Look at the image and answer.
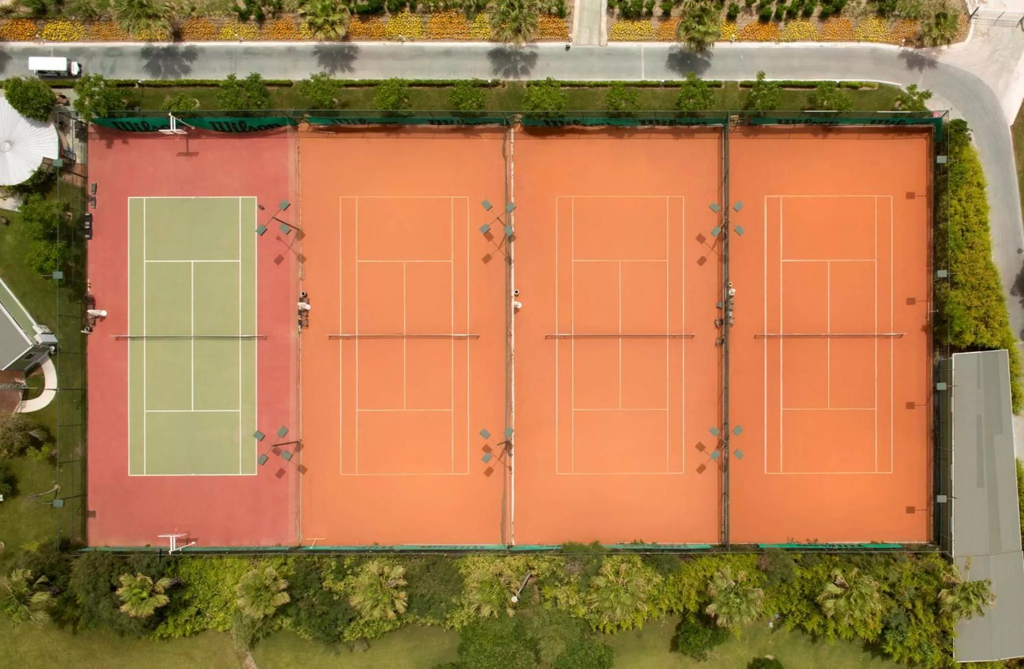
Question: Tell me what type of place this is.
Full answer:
It's a sports ground.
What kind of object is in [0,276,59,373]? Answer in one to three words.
house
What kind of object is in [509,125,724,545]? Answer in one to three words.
tennis court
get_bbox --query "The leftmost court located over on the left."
[87,125,300,545]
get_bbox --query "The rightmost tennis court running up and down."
[724,125,933,545]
